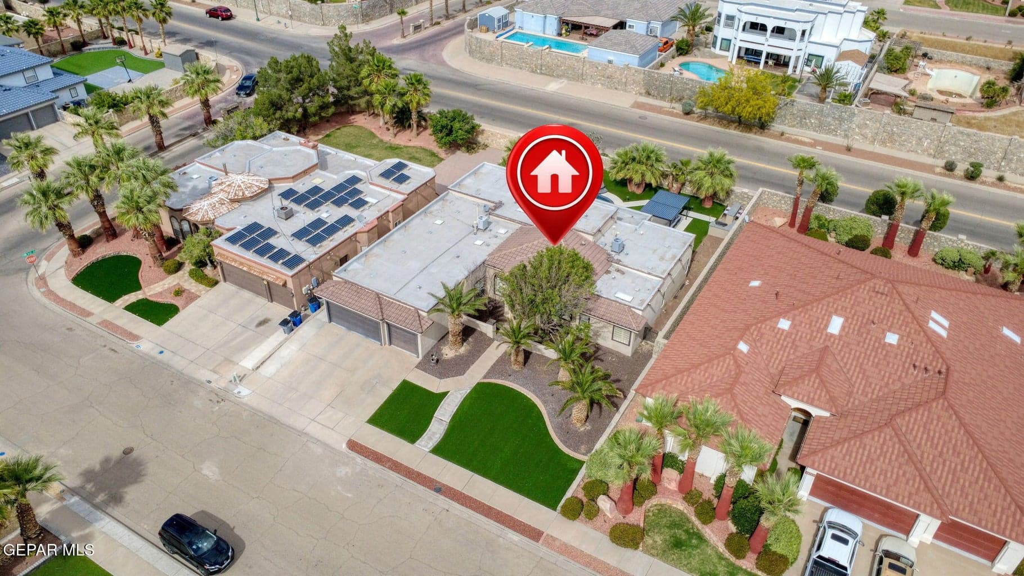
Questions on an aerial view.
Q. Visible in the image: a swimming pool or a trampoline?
swimming pool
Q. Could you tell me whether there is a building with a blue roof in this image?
Yes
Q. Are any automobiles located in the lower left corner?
Yes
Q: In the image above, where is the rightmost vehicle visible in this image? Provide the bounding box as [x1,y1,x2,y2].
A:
[878,534,928,576]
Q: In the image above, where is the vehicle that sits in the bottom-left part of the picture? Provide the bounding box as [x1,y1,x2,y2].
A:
[156,508,237,572]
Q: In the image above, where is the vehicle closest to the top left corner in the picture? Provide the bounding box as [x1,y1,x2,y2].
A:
[205,6,234,21]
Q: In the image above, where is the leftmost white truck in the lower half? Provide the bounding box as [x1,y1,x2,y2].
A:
[812,508,869,576]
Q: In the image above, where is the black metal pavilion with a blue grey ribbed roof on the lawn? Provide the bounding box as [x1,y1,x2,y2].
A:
[640,188,690,227]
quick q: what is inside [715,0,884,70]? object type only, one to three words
house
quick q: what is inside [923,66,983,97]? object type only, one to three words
swimming pool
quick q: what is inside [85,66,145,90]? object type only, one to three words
sports court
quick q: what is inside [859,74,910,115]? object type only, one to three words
building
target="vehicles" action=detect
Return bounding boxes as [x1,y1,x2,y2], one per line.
[235,77,265,98]
[205,6,234,21]
[655,37,684,57]
[878,534,928,576]
[156,508,237,572]
[812,508,869,576]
